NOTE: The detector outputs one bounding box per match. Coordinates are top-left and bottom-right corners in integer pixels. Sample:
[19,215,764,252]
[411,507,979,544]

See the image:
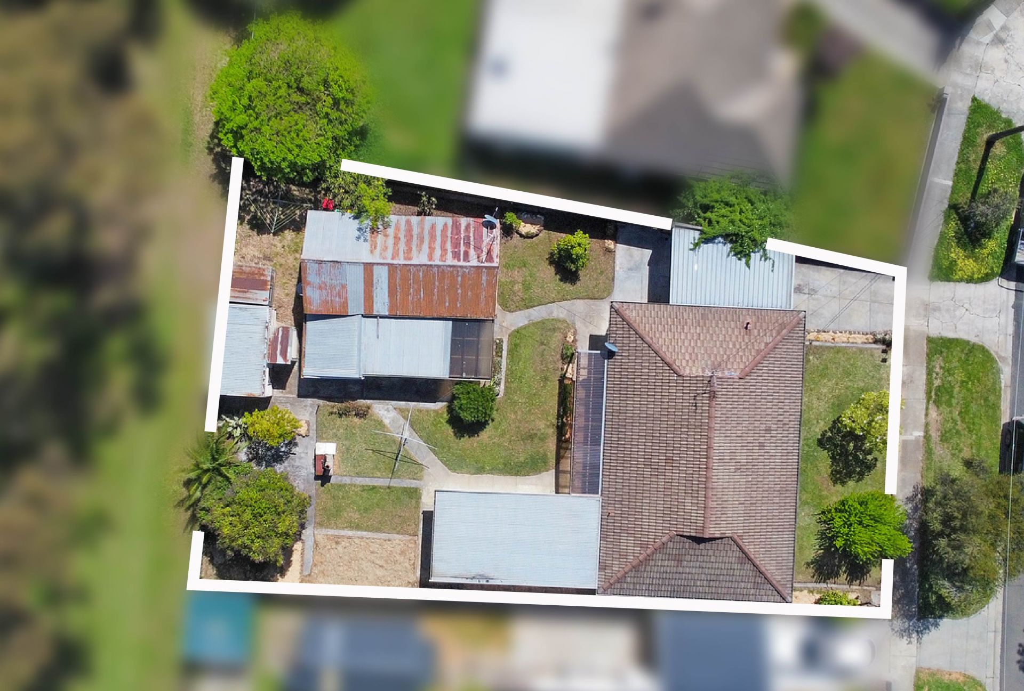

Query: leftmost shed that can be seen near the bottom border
[183,592,263,663]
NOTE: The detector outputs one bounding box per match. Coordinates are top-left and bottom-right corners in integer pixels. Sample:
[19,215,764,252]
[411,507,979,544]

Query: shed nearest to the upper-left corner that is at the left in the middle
[218,265,274,306]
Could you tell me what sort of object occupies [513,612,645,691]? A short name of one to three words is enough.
house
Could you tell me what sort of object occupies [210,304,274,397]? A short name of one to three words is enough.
shed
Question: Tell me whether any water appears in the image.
No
